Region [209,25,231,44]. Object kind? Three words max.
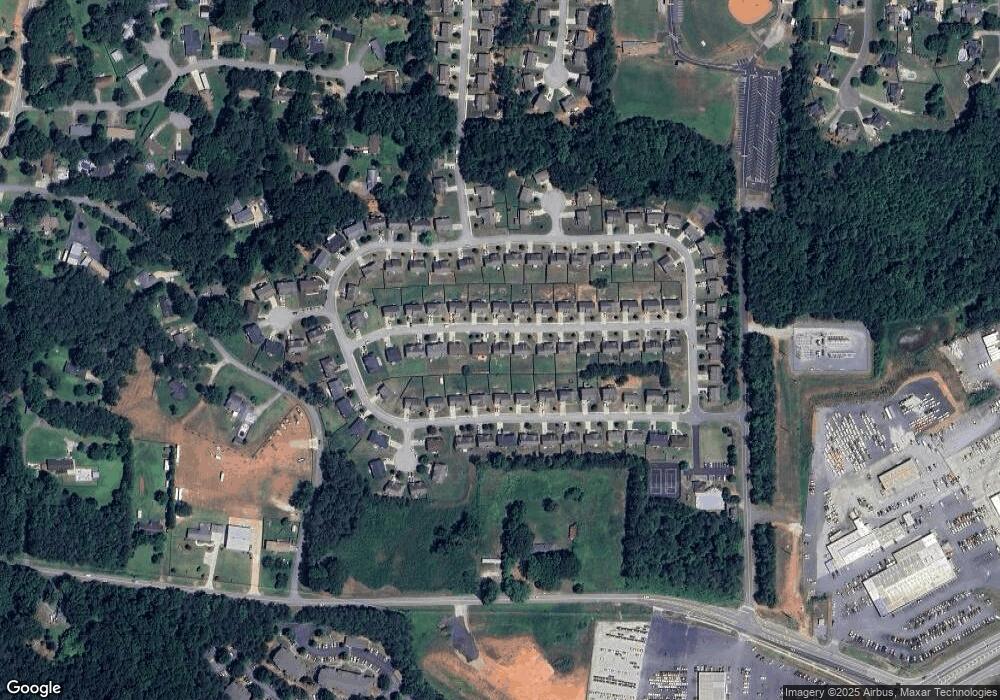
house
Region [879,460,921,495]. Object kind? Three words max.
building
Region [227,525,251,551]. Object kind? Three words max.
building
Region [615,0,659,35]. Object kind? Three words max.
sports field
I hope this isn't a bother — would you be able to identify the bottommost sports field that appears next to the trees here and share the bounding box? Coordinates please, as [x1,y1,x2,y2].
[617,61,734,144]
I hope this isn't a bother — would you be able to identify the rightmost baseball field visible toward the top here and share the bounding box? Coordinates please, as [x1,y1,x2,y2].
[685,0,776,54]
